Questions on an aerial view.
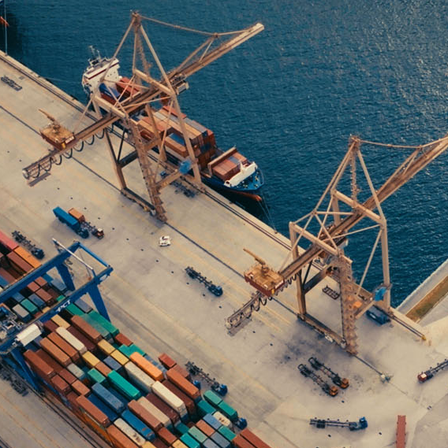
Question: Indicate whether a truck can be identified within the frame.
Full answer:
Yes, I can see a truck in this picture.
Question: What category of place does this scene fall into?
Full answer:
This looks like a port.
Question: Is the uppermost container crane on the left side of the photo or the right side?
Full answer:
The uppermost container crane appears in the left half of the scene.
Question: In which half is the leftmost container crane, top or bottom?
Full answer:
The leftmost container crane is in the bottom half of the image.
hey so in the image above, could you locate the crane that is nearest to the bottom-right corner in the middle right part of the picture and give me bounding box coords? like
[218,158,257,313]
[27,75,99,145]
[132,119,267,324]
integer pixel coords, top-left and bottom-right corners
[221,129,448,357]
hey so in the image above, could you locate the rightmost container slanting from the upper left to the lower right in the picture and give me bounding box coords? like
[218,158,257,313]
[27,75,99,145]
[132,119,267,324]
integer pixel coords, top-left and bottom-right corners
[360,304,394,333]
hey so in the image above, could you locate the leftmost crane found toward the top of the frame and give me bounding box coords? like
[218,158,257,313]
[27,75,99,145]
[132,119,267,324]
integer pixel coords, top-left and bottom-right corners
[14,5,263,224]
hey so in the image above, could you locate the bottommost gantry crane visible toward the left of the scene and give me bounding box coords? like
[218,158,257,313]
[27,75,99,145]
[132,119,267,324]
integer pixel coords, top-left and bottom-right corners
[0,239,114,394]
